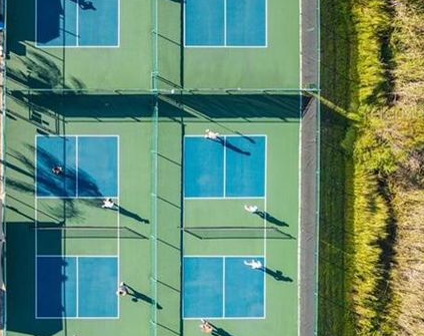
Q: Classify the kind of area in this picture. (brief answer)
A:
sports ground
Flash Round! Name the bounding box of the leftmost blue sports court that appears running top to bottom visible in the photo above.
[36,135,119,320]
